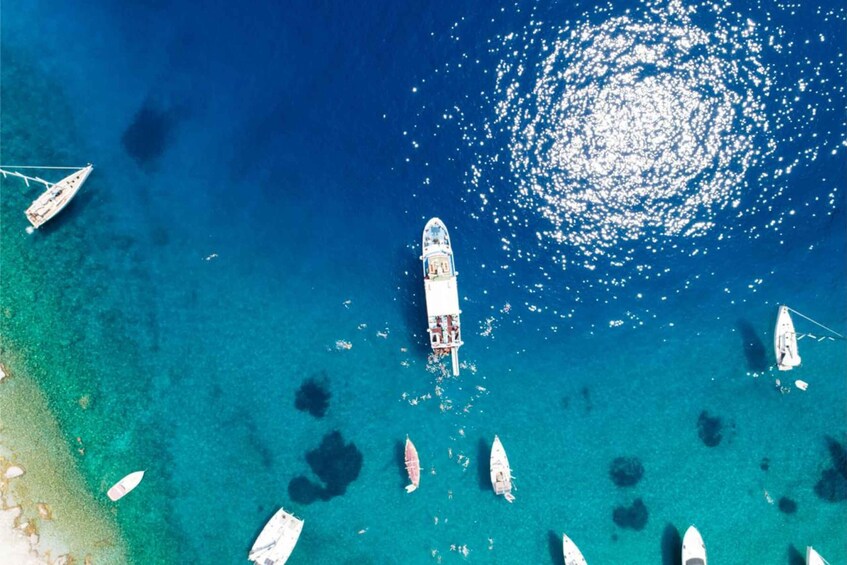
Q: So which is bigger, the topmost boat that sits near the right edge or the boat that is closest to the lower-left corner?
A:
the topmost boat that sits near the right edge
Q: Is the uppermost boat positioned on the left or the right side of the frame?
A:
left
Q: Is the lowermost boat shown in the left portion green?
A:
No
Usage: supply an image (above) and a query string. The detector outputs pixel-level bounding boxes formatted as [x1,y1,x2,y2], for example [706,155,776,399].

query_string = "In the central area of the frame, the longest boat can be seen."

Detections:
[419,218,464,378]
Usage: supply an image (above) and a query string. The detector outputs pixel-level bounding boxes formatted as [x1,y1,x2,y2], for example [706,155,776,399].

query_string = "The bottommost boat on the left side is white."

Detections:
[246,505,304,565]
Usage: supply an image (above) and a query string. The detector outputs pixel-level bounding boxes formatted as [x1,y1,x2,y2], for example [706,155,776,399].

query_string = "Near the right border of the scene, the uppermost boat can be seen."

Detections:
[773,304,835,369]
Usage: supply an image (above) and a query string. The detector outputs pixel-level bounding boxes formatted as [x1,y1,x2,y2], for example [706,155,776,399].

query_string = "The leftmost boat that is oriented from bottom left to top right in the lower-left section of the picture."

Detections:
[108,470,146,501]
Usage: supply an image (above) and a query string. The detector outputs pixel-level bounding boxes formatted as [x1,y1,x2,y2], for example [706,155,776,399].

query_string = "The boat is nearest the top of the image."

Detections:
[0,164,93,228]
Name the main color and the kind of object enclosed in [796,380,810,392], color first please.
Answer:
white boat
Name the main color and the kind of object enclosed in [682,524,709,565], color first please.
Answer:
white boat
